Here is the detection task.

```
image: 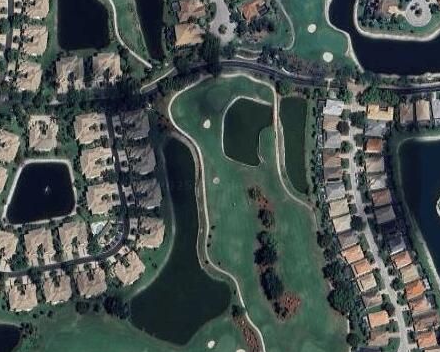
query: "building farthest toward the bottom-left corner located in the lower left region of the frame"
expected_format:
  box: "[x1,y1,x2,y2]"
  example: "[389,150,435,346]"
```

[9,284,38,310]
